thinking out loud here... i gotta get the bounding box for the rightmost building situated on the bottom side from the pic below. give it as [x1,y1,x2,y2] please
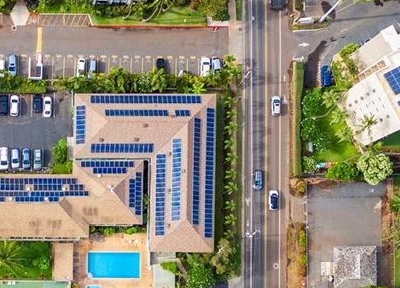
[329,246,377,288]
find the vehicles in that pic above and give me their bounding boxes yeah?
[156,55,165,74]
[271,96,281,116]
[10,95,19,116]
[0,95,8,116]
[11,148,19,168]
[320,66,331,87]
[269,0,282,11]
[77,57,85,74]
[268,190,279,211]
[0,56,5,70]
[89,57,96,73]
[22,148,31,168]
[0,148,9,169]
[43,97,52,118]
[253,170,263,191]
[34,95,42,114]
[34,150,42,169]
[8,55,17,77]
[212,56,221,73]
[200,56,211,72]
